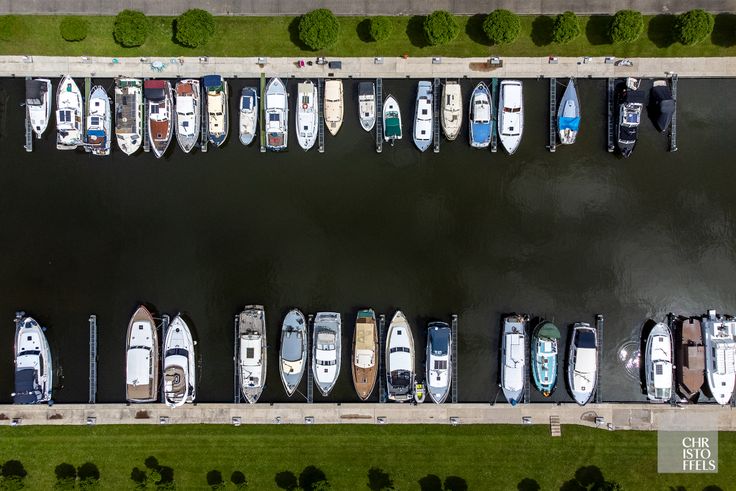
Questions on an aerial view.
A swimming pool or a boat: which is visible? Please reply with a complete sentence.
This aerial view contains a boat.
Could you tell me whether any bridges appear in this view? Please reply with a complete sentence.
No, the photo shows no bridge.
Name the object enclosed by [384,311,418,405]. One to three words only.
boat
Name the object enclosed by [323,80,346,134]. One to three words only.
boat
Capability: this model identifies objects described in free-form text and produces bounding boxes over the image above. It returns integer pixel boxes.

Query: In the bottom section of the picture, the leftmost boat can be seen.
[11,318,57,406]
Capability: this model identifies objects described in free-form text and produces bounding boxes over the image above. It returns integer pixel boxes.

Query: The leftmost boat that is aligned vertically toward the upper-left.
[24,75,57,142]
